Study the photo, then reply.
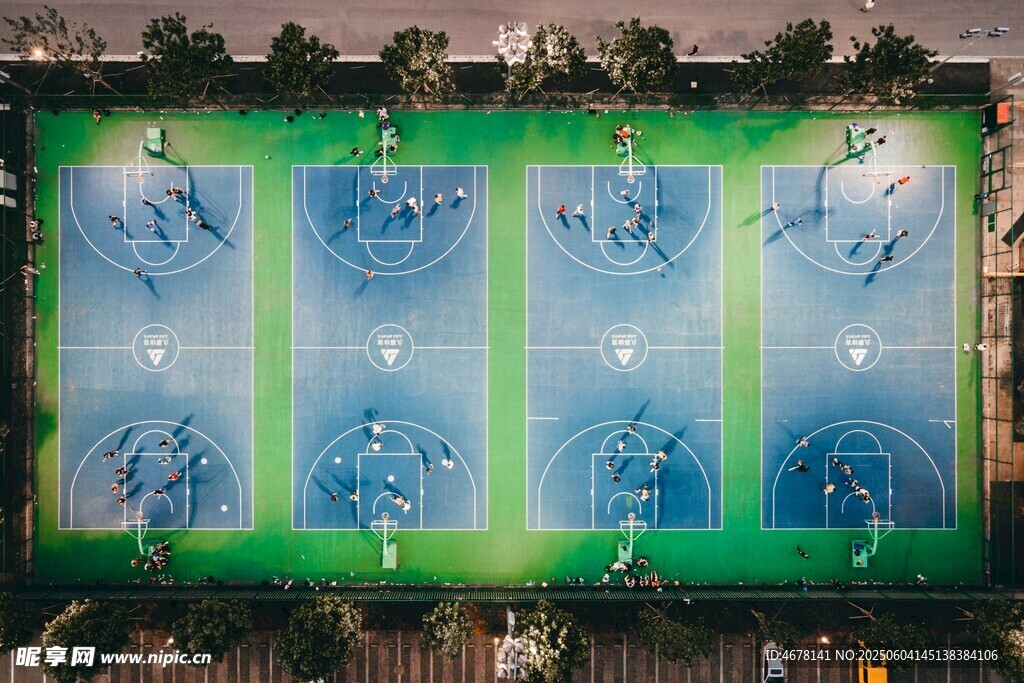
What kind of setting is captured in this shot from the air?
sports ground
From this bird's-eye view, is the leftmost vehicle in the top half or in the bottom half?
bottom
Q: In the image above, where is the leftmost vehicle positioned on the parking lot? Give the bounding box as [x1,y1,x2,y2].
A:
[759,644,788,683]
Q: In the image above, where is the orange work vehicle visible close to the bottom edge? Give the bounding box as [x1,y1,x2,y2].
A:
[861,639,893,683]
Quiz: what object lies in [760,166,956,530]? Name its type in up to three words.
basketball court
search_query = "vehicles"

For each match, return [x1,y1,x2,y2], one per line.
[759,644,788,683]
[861,639,893,683]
